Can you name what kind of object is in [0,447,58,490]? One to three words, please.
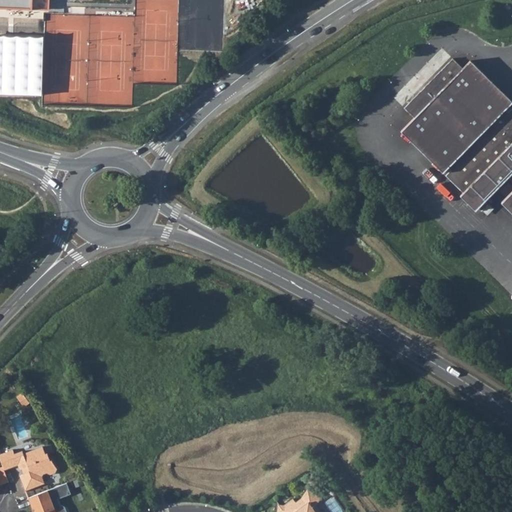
house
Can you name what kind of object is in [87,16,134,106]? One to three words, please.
tennis court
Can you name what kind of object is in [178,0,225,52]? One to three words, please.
sports court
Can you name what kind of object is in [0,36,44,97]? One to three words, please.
building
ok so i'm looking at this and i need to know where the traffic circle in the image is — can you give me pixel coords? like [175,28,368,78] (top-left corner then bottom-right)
[61,146,161,247]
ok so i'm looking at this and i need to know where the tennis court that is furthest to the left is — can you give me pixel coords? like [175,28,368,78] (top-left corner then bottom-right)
[43,14,89,104]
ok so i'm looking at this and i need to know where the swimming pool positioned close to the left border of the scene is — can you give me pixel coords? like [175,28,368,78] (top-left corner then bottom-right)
[12,414,30,446]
